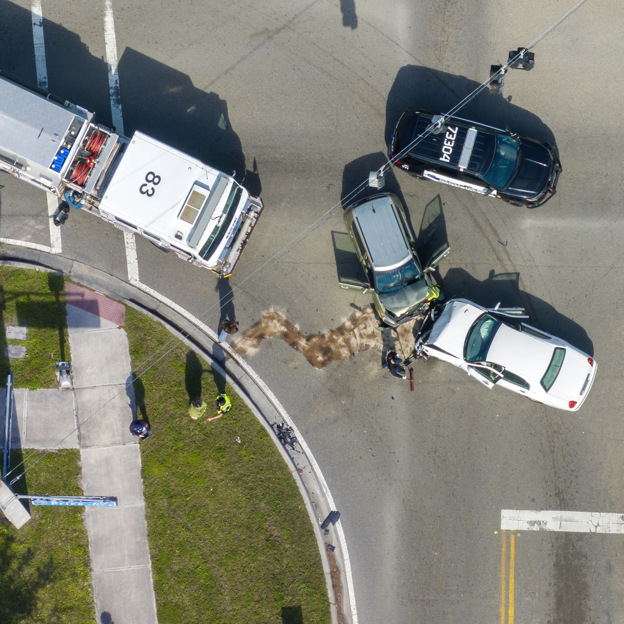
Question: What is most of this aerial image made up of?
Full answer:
The largest share of the image is taken up by paved ground.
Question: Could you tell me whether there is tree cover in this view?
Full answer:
No, the picture contains no tree cover.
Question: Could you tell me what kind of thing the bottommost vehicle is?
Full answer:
In the photo, the bottommost vehicle shows up as a car.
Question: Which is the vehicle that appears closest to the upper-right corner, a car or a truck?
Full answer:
What you see as the vehicle that appears closest to the upper-right corner is a car.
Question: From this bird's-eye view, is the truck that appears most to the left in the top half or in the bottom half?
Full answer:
You can find the truck that appears most to the left in the top half.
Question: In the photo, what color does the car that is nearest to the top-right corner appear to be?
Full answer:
The color of the car that is nearest to the top-right corner is black.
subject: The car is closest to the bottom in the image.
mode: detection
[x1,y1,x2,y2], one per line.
[418,295,601,410]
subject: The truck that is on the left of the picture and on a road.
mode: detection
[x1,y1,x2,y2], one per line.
[0,68,265,279]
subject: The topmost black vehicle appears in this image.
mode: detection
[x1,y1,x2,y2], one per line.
[387,105,563,212]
